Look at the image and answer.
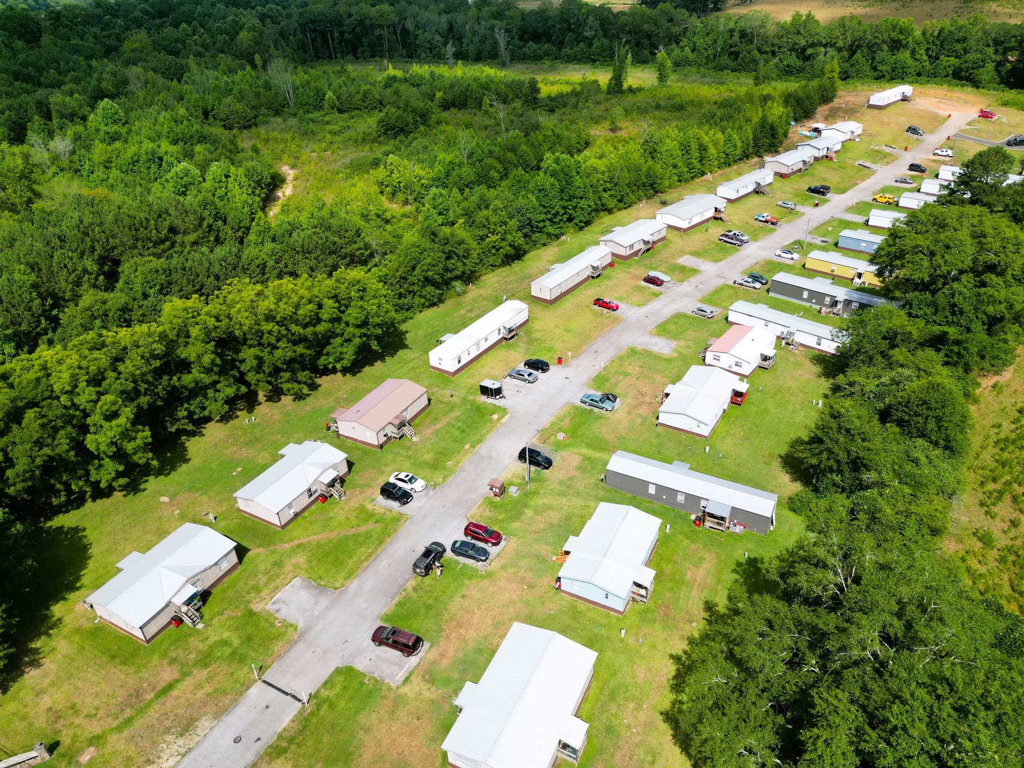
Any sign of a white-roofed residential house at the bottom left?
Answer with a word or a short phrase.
Yes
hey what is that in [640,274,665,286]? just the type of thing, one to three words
vehicle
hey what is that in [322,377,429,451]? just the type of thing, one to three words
house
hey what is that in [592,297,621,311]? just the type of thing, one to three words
vehicle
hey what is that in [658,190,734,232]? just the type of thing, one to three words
house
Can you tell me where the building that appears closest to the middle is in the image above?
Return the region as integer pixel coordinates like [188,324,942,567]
[426,298,530,377]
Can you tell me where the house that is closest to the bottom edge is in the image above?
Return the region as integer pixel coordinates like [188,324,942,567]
[440,606,605,768]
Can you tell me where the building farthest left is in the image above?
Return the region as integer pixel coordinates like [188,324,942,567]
[90,523,240,645]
